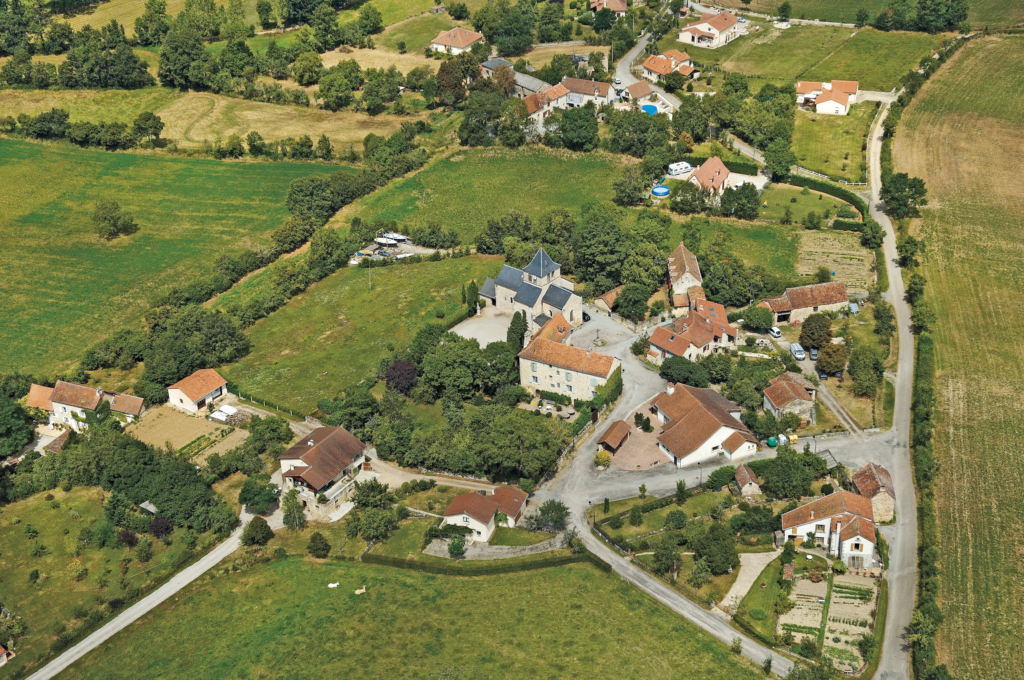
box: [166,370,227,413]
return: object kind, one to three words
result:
building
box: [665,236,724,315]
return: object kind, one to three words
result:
house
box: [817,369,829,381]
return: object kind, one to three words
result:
vehicle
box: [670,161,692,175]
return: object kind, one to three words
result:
camper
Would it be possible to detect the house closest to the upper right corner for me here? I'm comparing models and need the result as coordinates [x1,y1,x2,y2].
[795,77,859,116]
